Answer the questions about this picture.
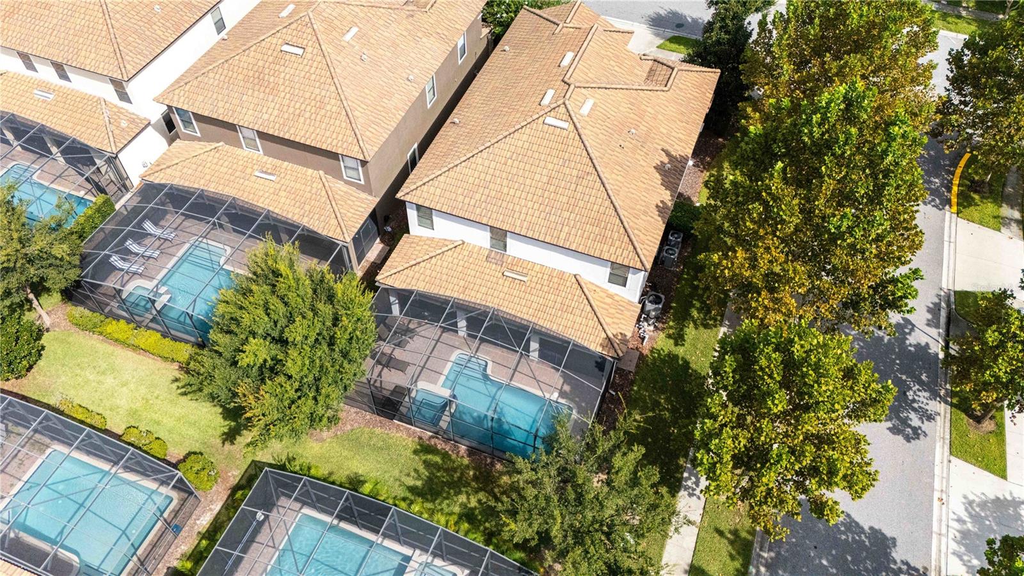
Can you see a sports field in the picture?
No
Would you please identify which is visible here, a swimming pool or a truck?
swimming pool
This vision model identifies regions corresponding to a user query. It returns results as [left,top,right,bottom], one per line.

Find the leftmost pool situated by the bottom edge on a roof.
[0,441,179,576]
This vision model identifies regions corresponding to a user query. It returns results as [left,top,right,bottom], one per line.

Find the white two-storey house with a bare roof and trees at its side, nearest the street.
[376,0,720,392]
